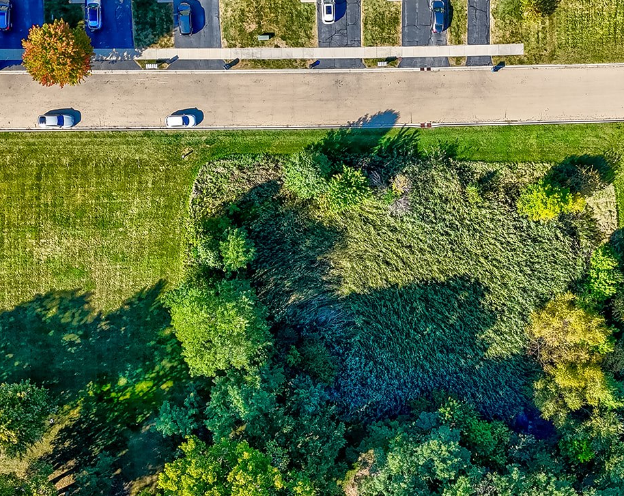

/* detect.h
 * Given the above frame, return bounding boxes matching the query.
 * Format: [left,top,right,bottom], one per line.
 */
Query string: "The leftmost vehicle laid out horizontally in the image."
[39,112,76,129]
